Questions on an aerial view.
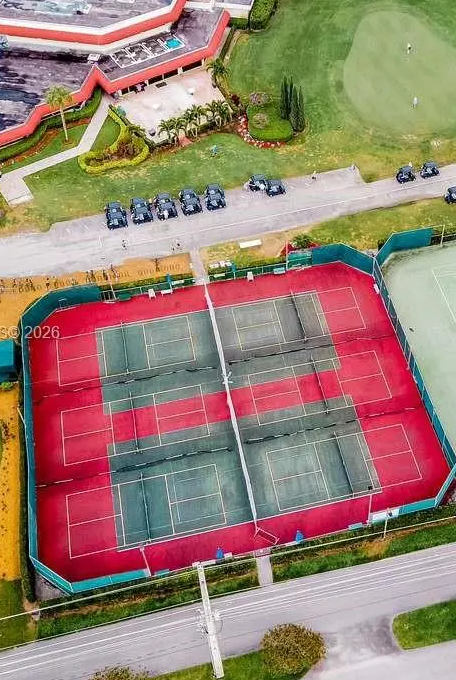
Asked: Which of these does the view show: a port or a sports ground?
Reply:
sports ground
